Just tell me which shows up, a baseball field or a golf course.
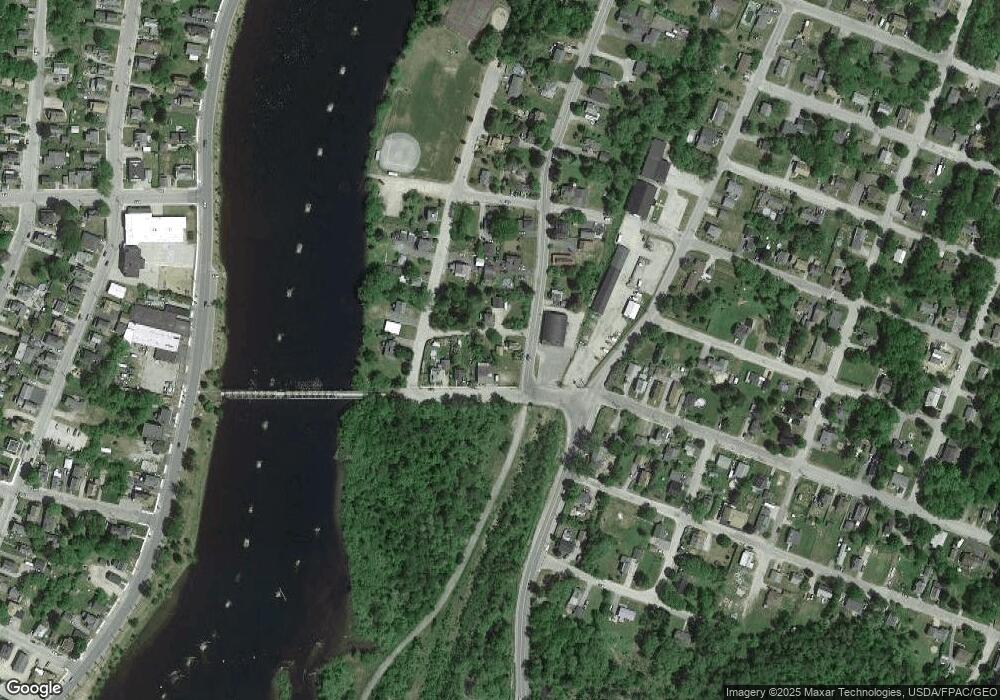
baseball field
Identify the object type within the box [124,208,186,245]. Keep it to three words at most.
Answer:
building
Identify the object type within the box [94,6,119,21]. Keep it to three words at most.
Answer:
house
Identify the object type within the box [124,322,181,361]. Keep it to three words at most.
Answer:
building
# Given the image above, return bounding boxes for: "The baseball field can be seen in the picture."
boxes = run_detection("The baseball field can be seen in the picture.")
[379,25,480,181]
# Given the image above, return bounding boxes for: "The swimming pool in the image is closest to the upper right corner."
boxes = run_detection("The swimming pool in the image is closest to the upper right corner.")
[739,3,758,27]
